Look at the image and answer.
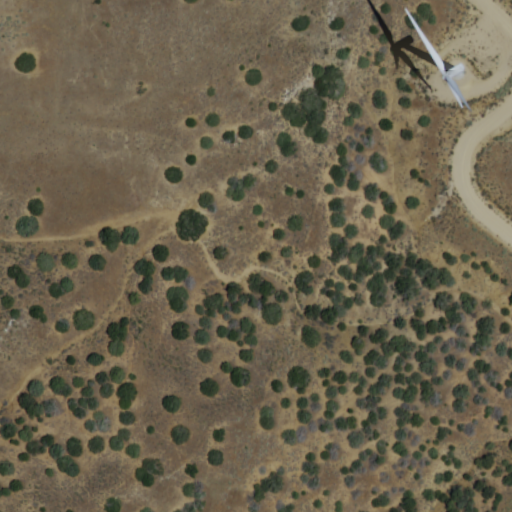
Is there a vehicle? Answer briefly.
No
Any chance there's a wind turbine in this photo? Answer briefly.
Yes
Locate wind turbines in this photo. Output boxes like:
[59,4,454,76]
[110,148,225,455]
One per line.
[404,9,468,110]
